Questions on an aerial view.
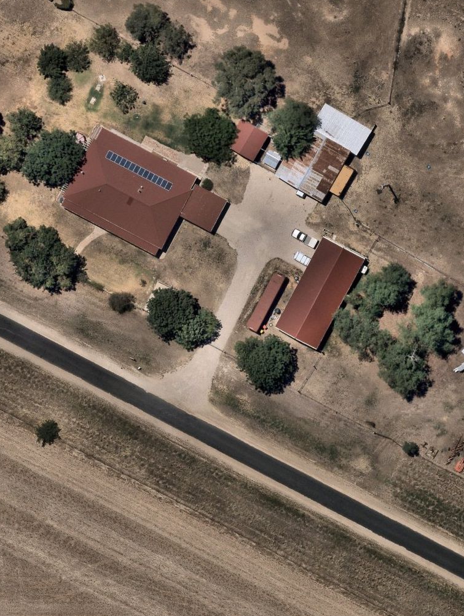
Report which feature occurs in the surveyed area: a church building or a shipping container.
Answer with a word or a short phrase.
shipping container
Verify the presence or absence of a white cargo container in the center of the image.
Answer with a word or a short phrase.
No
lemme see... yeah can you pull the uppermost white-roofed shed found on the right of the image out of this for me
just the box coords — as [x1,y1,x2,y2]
[315,103,372,155]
